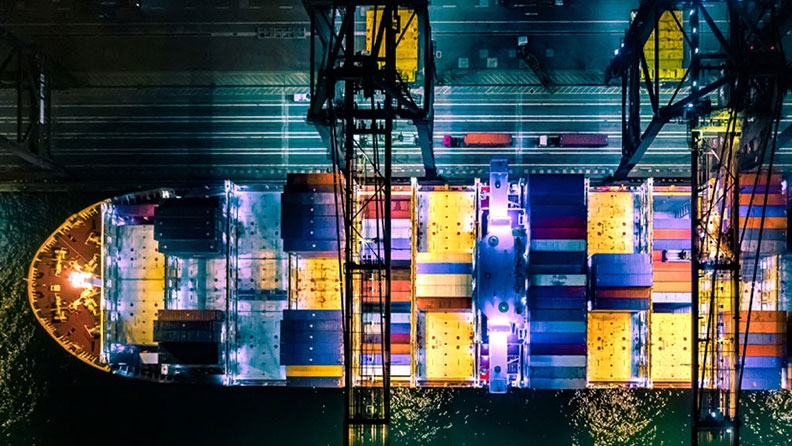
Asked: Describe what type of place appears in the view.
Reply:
port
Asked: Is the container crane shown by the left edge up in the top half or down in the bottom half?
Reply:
top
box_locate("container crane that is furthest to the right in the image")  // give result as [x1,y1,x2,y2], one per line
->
[597,0,792,446]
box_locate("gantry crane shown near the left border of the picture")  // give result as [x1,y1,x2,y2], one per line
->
[0,29,90,180]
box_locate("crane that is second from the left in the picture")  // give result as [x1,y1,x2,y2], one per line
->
[302,0,452,446]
